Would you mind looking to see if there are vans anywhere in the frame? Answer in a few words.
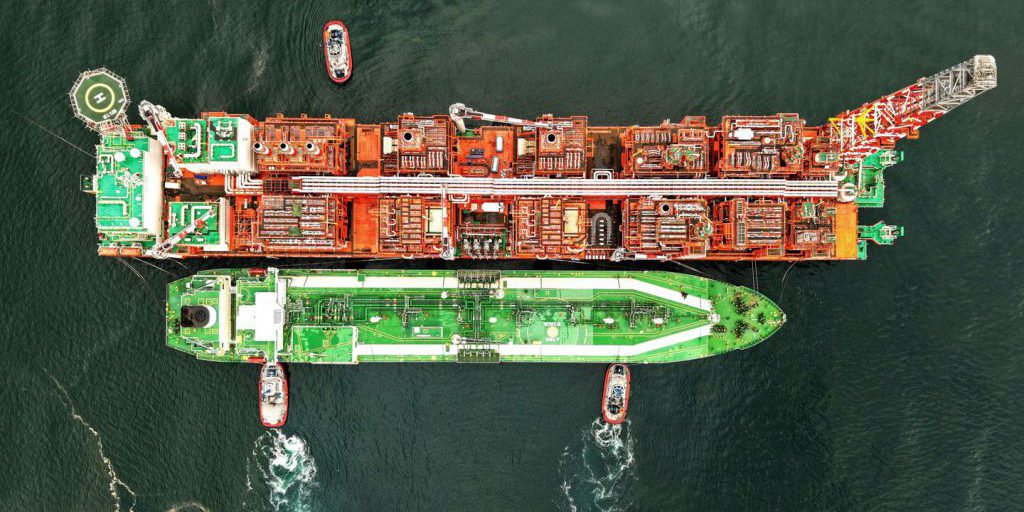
No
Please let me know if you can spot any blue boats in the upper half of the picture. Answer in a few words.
No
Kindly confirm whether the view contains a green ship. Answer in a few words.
Yes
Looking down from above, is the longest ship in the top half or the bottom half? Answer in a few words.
top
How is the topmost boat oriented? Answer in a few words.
up and down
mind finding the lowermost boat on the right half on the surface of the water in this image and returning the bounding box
[601,363,631,425]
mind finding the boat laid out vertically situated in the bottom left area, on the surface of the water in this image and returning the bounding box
[257,362,290,429]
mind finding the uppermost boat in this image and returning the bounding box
[321,19,356,85]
